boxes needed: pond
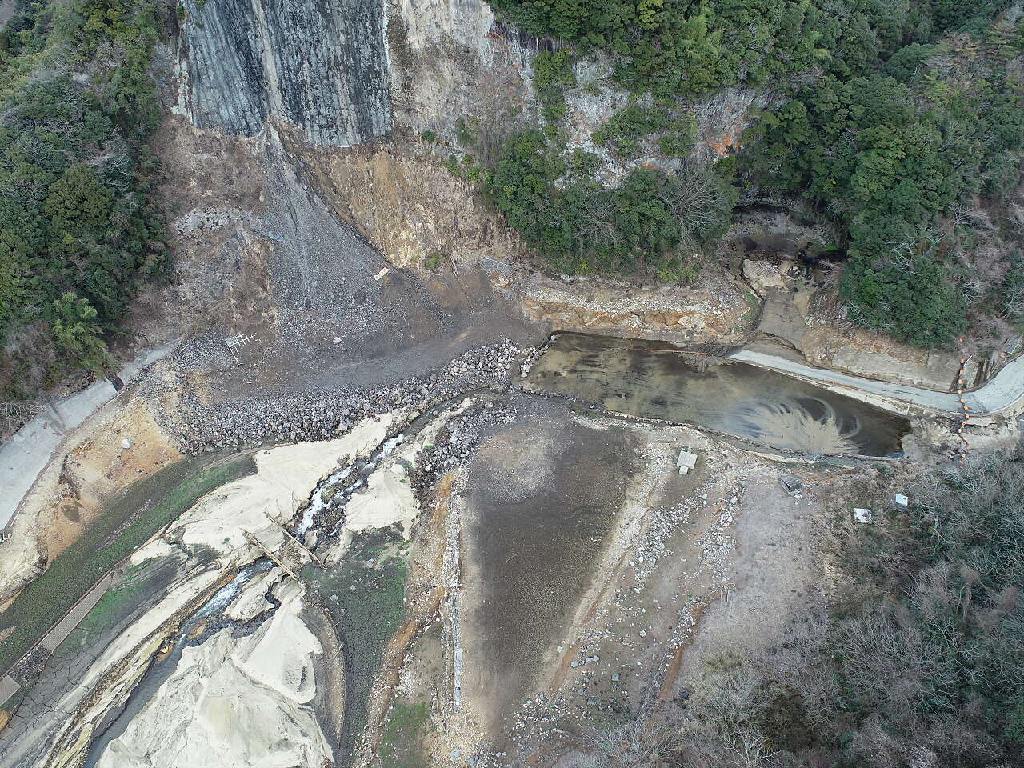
[515,332,913,461]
